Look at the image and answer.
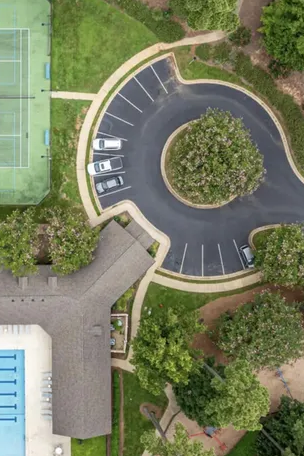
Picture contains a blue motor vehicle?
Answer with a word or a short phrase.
No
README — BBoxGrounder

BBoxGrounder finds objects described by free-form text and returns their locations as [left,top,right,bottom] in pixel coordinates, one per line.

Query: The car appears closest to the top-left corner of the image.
[93,137,122,151]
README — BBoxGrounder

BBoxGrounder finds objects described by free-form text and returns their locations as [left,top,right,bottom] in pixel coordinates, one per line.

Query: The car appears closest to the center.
[96,175,125,193]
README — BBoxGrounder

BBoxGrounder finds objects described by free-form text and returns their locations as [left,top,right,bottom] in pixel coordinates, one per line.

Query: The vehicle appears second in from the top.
[87,155,124,174]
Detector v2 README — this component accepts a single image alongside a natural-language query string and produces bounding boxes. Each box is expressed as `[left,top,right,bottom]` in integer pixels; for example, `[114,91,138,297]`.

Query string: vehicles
[87,155,124,174]
[93,137,122,151]
[96,175,125,193]
[239,243,257,270]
